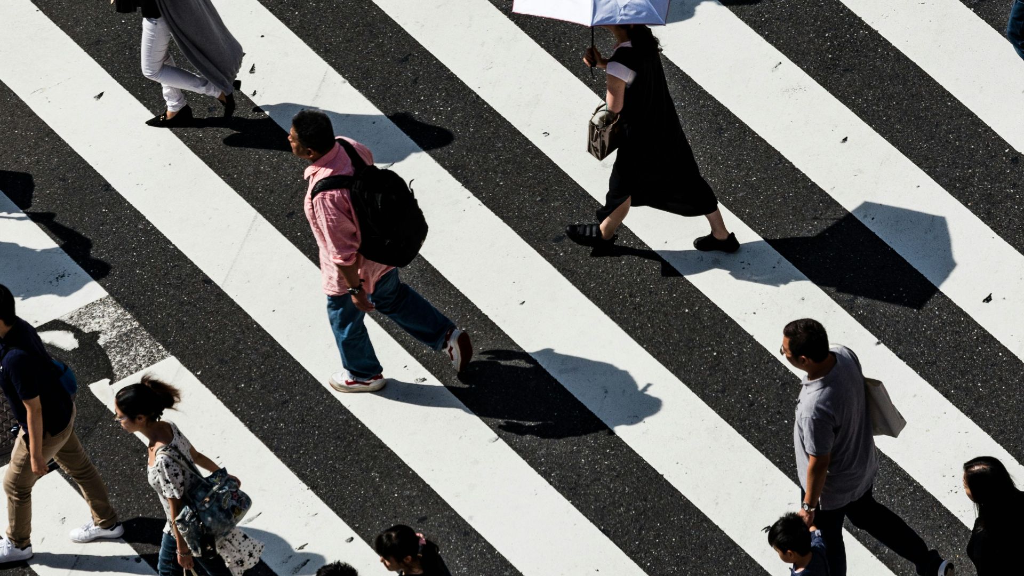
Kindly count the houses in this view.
0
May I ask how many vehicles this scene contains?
0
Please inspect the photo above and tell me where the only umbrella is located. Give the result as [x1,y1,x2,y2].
[510,0,666,82]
